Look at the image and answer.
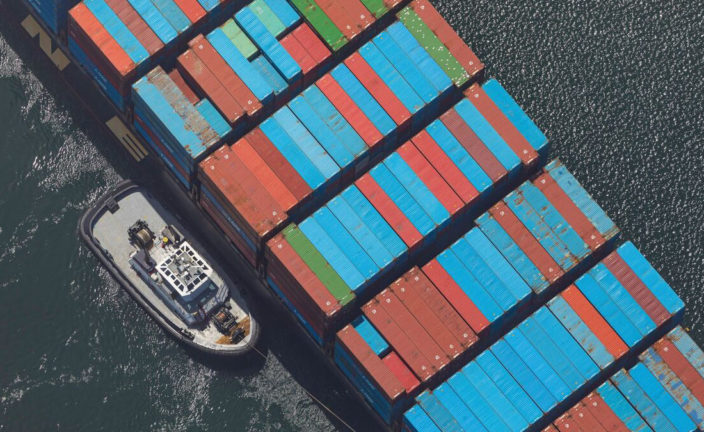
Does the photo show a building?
No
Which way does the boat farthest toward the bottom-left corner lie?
at an angle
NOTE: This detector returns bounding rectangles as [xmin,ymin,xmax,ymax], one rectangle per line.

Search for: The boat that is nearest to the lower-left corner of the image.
[77,185,258,359]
